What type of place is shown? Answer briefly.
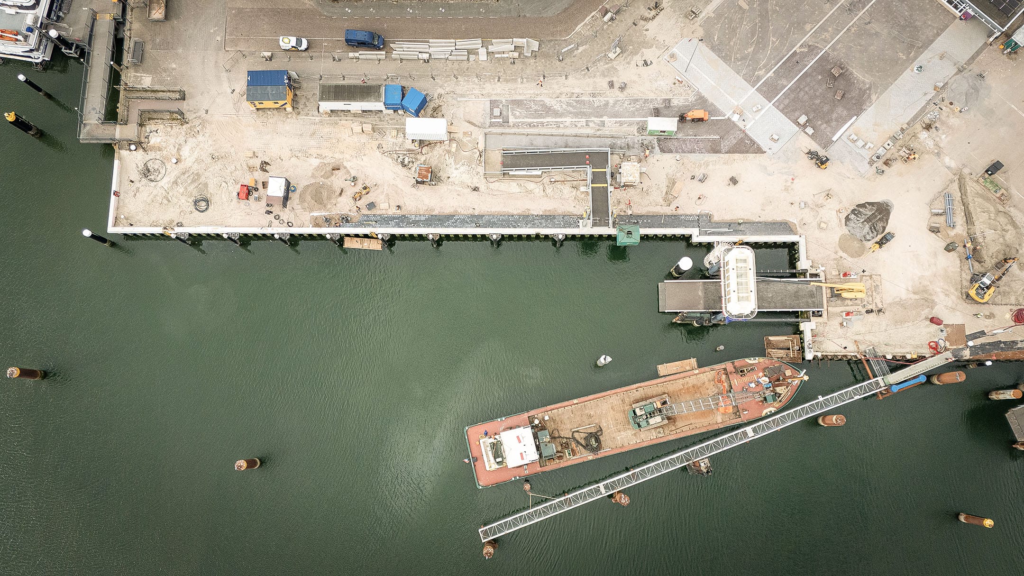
port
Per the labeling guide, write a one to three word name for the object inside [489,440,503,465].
boat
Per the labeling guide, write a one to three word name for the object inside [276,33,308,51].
vehicle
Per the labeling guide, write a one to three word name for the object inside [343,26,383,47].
vehicle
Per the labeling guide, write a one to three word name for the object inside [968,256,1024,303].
work vehicle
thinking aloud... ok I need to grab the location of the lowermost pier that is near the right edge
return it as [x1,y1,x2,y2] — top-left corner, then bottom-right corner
[993,404,1024,450]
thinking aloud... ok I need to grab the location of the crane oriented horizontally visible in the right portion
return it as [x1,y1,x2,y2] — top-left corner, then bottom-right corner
[629,393,761,433]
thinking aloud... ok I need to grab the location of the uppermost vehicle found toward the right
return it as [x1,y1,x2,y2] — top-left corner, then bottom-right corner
[1002,24,1024,54]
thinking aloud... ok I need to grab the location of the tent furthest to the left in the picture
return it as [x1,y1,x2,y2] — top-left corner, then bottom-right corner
[268,177,294,211]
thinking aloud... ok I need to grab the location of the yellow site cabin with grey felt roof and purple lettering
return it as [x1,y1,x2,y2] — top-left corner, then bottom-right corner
[246,86,292,111]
